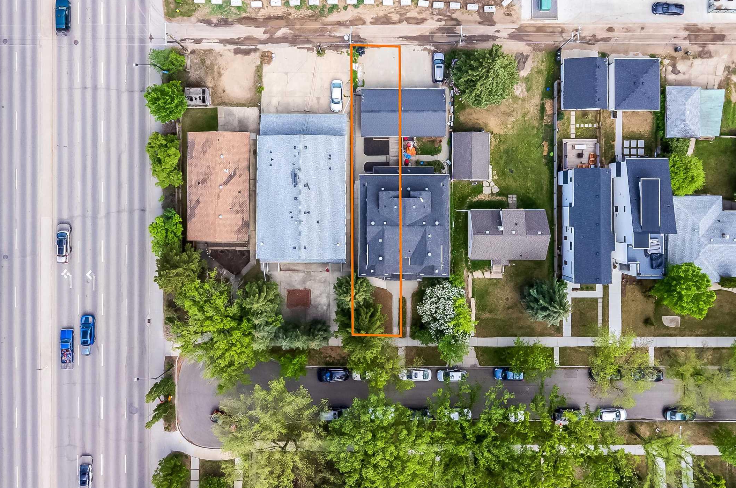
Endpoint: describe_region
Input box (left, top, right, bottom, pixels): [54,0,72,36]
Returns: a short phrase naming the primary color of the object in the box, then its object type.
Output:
blue car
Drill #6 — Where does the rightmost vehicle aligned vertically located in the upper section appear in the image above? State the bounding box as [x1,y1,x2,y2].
[431,52,447,85]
